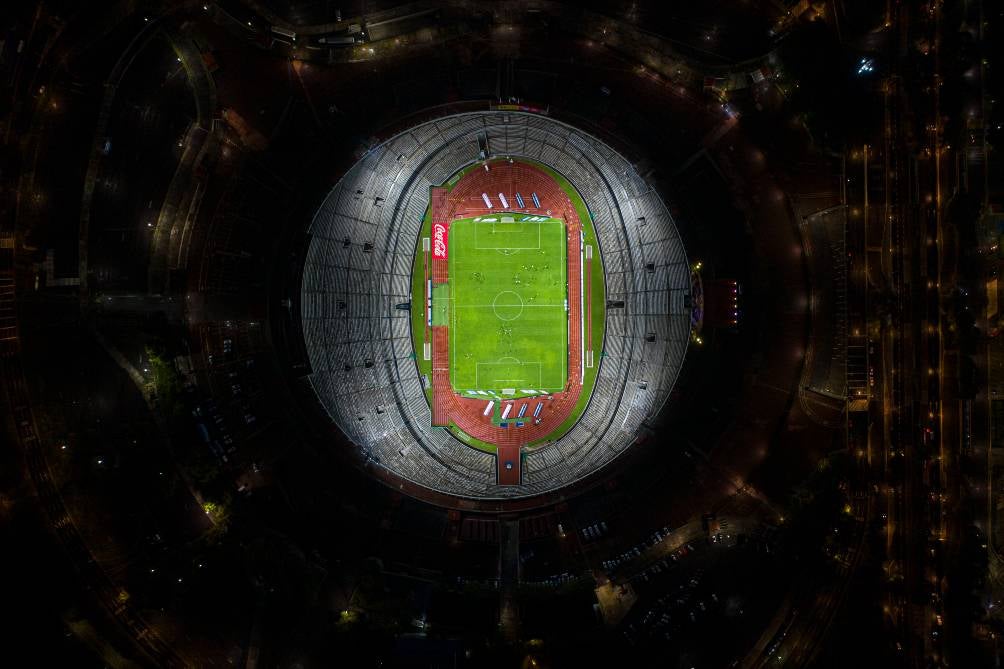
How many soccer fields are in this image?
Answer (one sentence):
The picture shows just 1 soccer field.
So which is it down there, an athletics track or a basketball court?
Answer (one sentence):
Looking from above, you can make out an athletics track.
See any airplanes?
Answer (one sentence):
No, I can't see a single airplane in this photo.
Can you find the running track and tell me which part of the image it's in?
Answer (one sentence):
The running track appears toward the center of the photo.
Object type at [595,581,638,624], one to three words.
building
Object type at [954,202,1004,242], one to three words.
building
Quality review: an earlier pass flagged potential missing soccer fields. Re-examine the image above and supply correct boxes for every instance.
[449,213,567,398]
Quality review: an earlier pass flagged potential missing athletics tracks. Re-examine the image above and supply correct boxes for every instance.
[432,161,581,444]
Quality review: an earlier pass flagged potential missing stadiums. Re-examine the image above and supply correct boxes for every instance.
[267,75,727,536]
